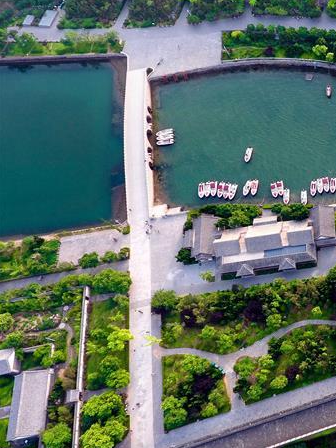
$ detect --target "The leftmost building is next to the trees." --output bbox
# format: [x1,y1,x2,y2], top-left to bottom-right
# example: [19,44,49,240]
[0,347,20,374]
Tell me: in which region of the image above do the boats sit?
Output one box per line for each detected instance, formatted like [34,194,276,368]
[252,179,259,194]
[230,183,239,199]
[223,182,230,198]
[244,179,253,194]
[157,134,174,140]
[158,139,176,145]
[204,181,211,196]
[310,179,317,195]
[157,129,174,135]
[210,180,217,196]
[330,177,336,191]
[276,180,284,195]
[198,181,205,197]
[323,176,330,191]
[302,189,308,202]
[270,181,277,197]
[317,177,324,192]
[217,181,225,197]
[283,188,290,202]
[246,146,253,161]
